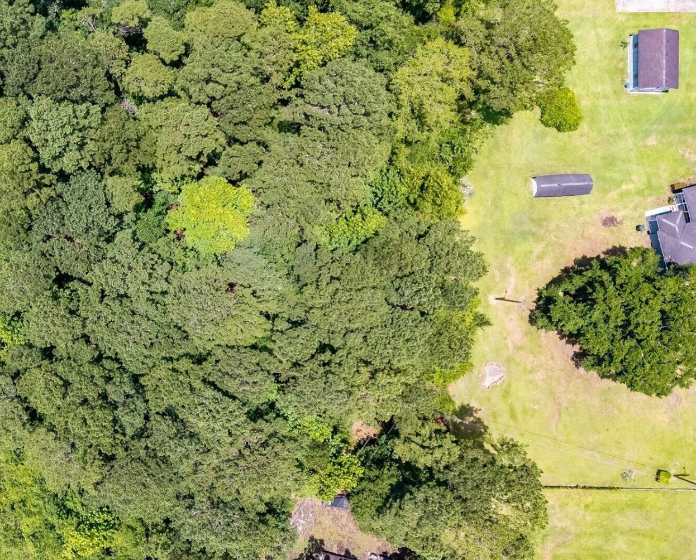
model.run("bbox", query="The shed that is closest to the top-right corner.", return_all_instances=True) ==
[627,27,677,95]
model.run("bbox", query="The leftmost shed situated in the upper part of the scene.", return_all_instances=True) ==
[530,173,597,198]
